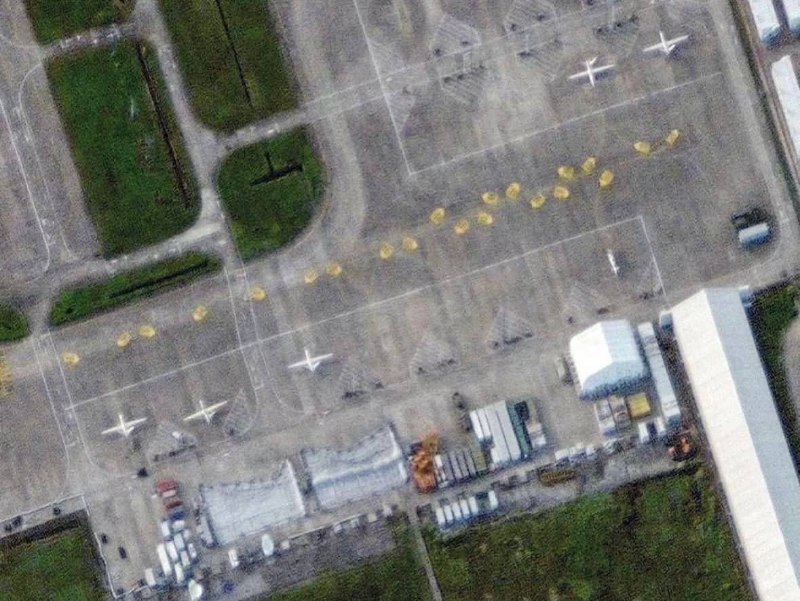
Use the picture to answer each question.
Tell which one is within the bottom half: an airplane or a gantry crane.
airplane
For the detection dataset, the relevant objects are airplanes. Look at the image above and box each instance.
[641,32,687,54]
[182,402,228,424]
[100,415,147,437]
[608,250,620,276]
[568,55,614,86]
[286,351,332,372]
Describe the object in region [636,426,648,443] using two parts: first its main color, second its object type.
white vehicle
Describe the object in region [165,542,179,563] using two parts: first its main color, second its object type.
white vehicle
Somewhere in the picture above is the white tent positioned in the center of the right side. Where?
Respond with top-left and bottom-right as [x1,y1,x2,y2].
[569,322,645,392]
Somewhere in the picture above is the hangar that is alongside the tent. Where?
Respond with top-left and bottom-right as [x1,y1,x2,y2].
[667,288,800,601]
